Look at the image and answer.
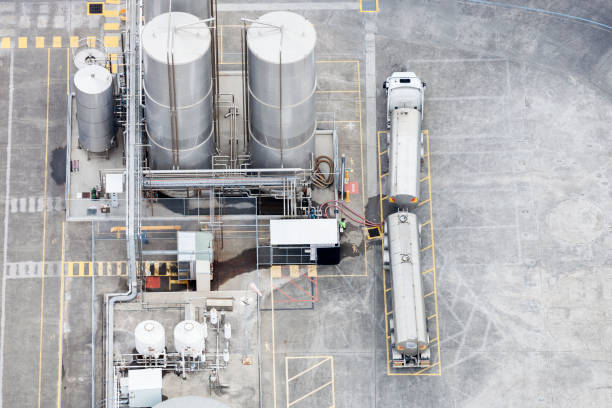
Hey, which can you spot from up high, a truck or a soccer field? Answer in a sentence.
This aerial view contains a truck.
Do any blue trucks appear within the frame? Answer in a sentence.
No, I can't see a single blue truck in this photo.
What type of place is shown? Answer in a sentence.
It's an industrial area.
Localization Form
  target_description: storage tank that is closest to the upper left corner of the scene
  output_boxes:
[72,38,127,73]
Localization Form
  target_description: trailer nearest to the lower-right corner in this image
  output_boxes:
[386,210,430,372]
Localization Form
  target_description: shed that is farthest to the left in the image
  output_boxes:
[128,369,162,407]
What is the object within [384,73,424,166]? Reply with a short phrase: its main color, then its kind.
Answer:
white truck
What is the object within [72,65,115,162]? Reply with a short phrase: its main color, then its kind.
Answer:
gray storage tank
